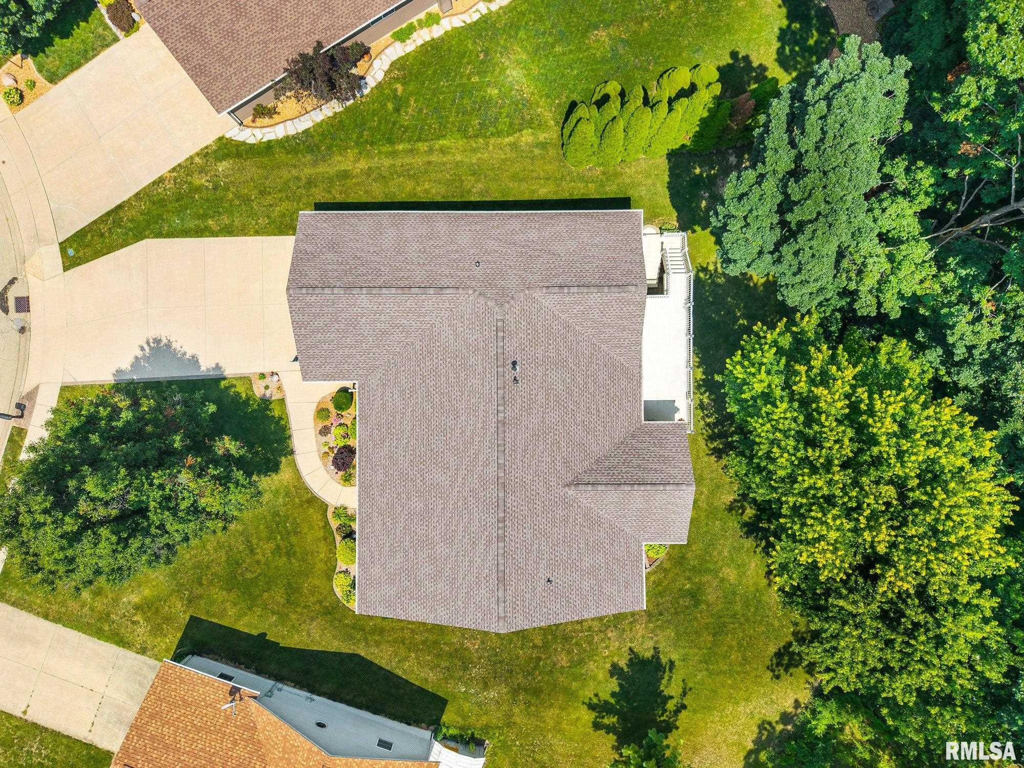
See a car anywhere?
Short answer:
No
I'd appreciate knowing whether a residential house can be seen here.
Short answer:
Yes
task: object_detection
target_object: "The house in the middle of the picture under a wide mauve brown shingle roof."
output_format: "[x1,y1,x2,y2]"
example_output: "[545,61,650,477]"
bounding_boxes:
[285,210,695,636]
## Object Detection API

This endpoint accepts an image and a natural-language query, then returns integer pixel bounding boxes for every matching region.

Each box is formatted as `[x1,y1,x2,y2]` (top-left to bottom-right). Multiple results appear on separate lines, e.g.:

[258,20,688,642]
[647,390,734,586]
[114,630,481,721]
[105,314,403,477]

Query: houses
[111,656,440,768]
[285,210,695,636]
[141,0,455,132]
